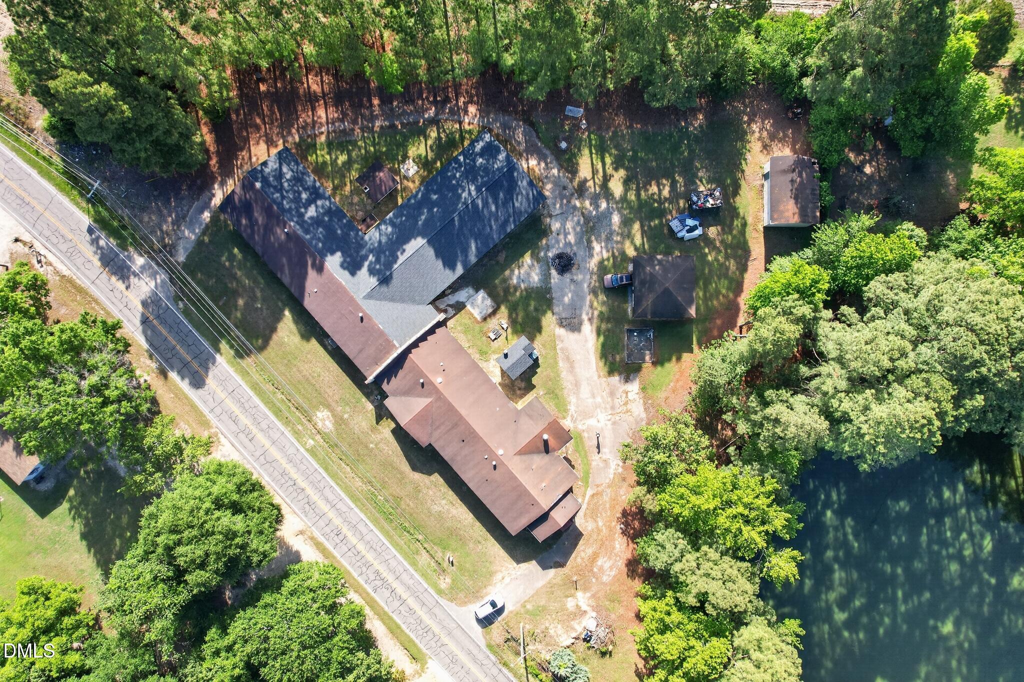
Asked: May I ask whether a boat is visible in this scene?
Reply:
No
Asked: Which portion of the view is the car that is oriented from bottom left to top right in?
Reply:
bottom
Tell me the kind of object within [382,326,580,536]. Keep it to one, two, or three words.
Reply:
house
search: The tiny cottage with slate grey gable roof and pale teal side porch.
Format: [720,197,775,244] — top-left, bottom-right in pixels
[496,335,539,380]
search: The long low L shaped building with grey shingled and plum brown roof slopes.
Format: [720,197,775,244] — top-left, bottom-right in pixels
[219,129,547,382]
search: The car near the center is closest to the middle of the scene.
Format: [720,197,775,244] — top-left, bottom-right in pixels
[606,272,632,288]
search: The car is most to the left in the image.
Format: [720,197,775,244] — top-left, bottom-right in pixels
[473,596,506,622]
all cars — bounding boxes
[473,596,506,622]
[606,272,632,288]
